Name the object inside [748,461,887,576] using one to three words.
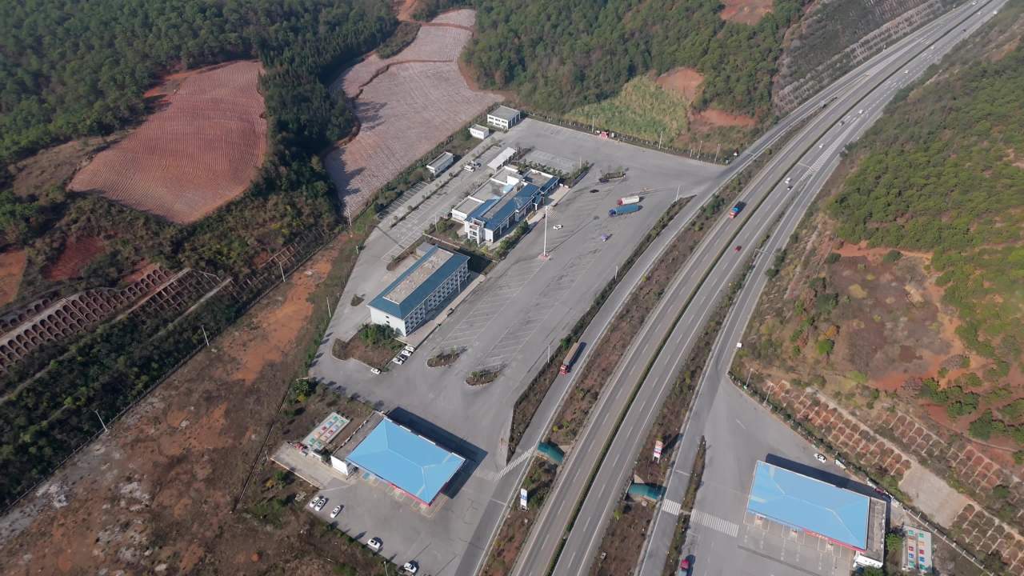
gas station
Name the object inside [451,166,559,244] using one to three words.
building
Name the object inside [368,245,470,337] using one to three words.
building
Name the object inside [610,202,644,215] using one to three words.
vehicle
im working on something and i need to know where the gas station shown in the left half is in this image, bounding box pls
[330,412,468,507]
